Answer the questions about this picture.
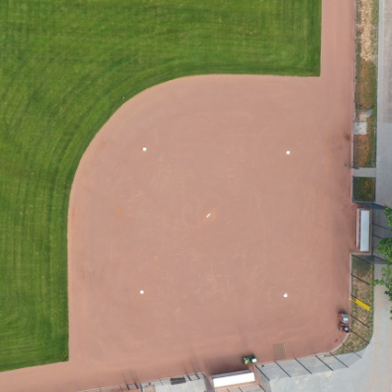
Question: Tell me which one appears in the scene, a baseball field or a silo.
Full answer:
The image shows a baseball field.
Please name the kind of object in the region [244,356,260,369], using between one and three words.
vehicle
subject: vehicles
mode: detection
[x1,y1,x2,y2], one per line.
[244,356,260,369]
[340,315,354,335]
